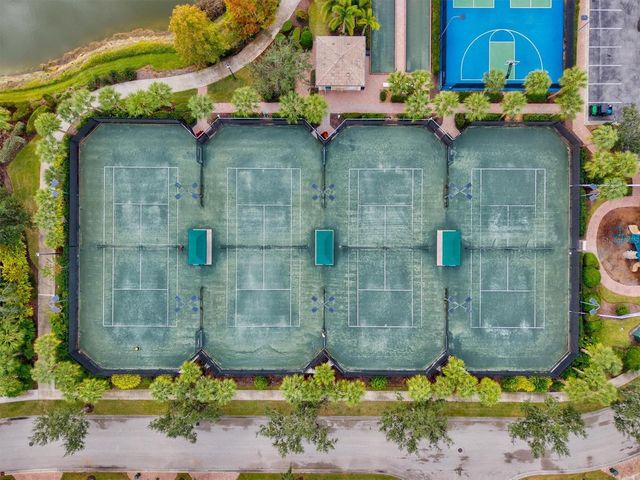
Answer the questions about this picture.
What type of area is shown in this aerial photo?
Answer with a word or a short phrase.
sports ground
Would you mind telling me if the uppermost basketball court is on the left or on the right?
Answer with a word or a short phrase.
right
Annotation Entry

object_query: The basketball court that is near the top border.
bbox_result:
[446,0,562,85]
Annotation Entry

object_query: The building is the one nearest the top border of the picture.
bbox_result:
[315,36,366,89]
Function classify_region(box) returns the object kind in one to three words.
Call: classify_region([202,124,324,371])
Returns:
tennis court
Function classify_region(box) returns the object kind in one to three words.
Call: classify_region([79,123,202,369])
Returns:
tennis court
